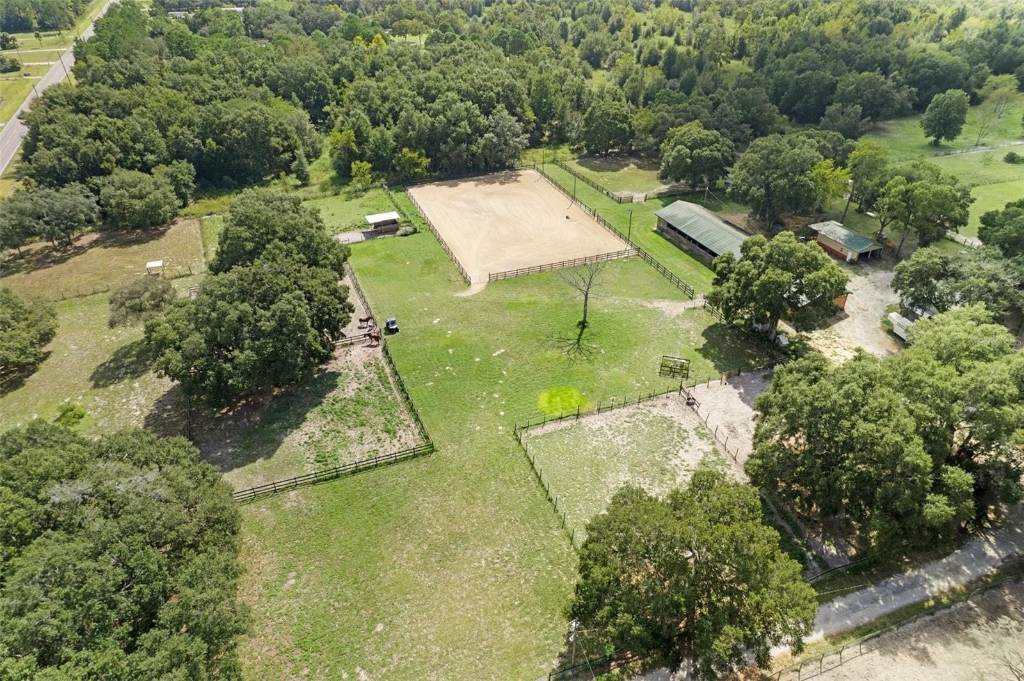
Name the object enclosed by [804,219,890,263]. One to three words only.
building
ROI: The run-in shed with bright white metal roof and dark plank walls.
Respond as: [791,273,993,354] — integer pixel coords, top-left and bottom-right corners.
[366,213,400,235]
